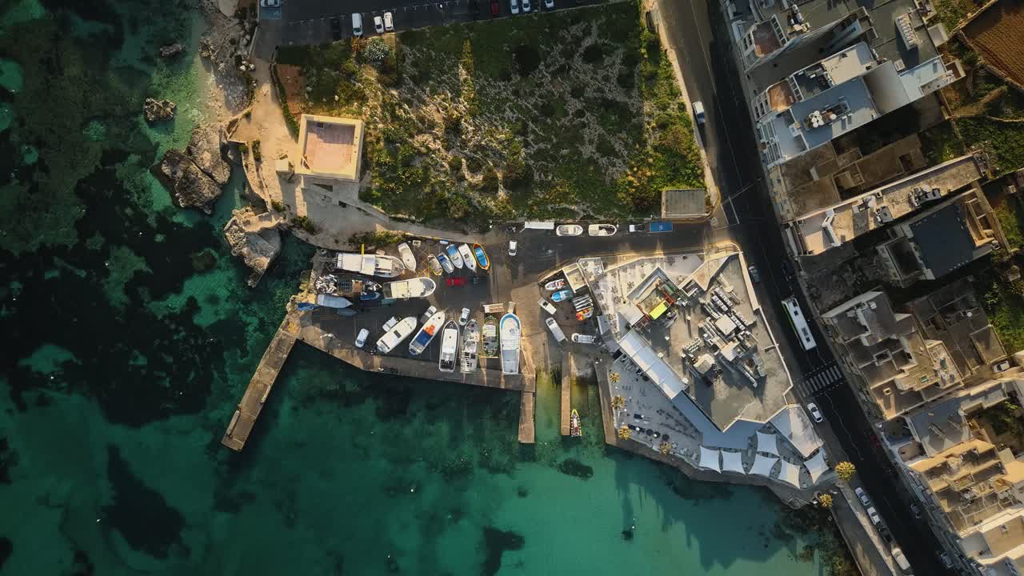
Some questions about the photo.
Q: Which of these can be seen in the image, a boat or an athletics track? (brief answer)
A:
boat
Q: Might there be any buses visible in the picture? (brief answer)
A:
Yes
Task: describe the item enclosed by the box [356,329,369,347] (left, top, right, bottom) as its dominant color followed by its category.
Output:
white vehicle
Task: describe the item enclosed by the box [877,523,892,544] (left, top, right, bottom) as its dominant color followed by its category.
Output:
black car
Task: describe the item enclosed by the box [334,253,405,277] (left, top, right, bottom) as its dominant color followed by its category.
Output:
white boat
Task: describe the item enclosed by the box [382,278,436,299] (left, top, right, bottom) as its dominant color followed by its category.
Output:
white boat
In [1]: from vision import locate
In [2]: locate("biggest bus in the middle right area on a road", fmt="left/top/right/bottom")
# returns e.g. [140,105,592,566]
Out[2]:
[779,295,815,350]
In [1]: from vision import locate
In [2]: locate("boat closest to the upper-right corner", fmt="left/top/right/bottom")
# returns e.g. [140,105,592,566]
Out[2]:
[588,223,617,235]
